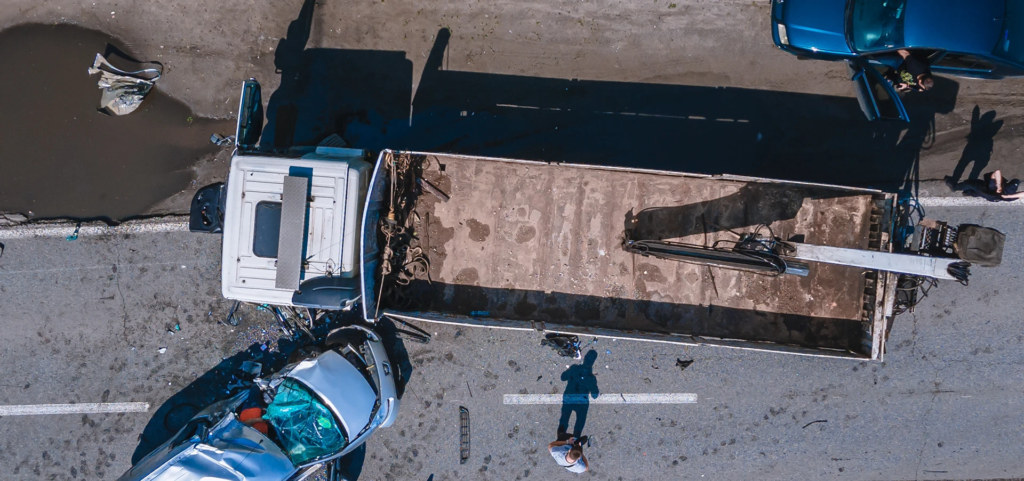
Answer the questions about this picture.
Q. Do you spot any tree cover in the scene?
No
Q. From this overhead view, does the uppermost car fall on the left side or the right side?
right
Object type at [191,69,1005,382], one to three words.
truck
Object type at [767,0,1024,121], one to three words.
car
